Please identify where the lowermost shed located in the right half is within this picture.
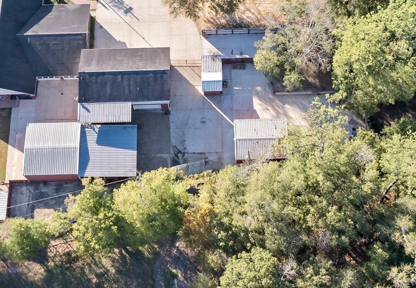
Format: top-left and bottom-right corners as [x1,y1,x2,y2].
[232,117,288,165]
